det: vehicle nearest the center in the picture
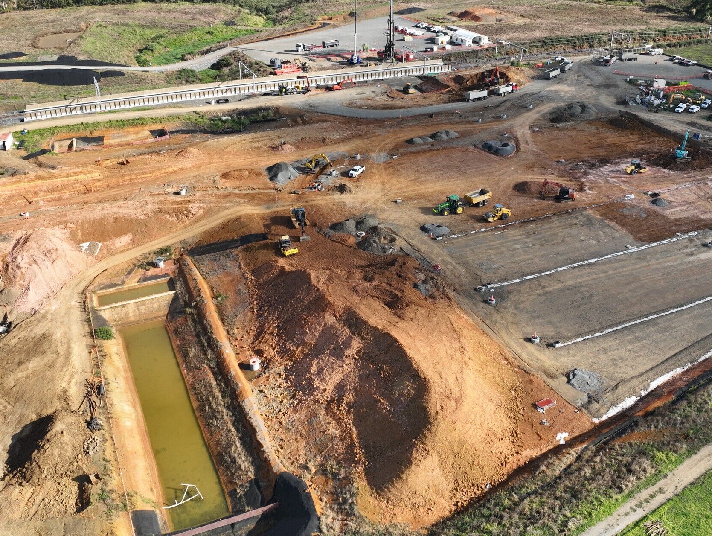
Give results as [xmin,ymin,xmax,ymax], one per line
[294,208,311,234]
